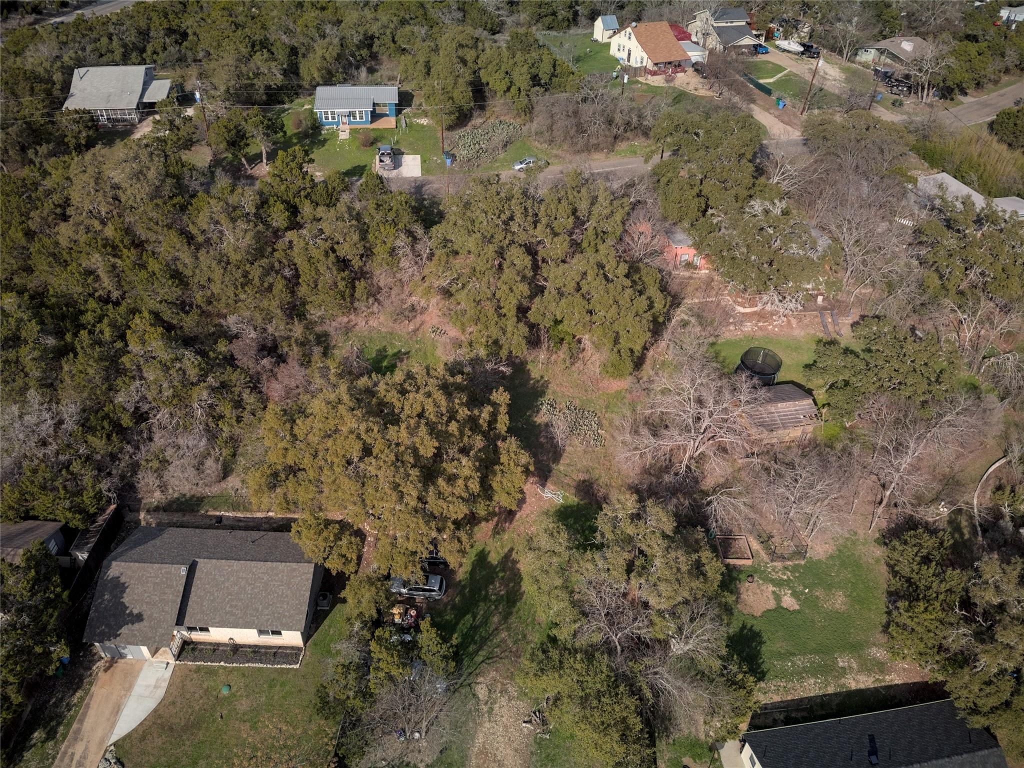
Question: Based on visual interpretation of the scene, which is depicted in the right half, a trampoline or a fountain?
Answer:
trampoline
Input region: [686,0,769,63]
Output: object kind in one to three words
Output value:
house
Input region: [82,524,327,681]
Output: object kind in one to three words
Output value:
house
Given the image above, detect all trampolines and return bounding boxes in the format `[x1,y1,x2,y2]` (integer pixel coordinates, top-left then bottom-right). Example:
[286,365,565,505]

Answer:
[737,343,785,389]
